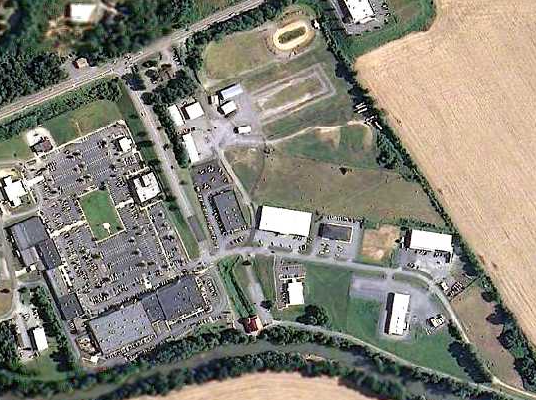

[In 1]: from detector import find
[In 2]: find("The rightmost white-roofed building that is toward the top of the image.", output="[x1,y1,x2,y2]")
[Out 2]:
[345,0,375,24]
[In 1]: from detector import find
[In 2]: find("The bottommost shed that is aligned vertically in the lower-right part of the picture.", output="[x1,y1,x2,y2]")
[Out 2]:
[388,293,410,335]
